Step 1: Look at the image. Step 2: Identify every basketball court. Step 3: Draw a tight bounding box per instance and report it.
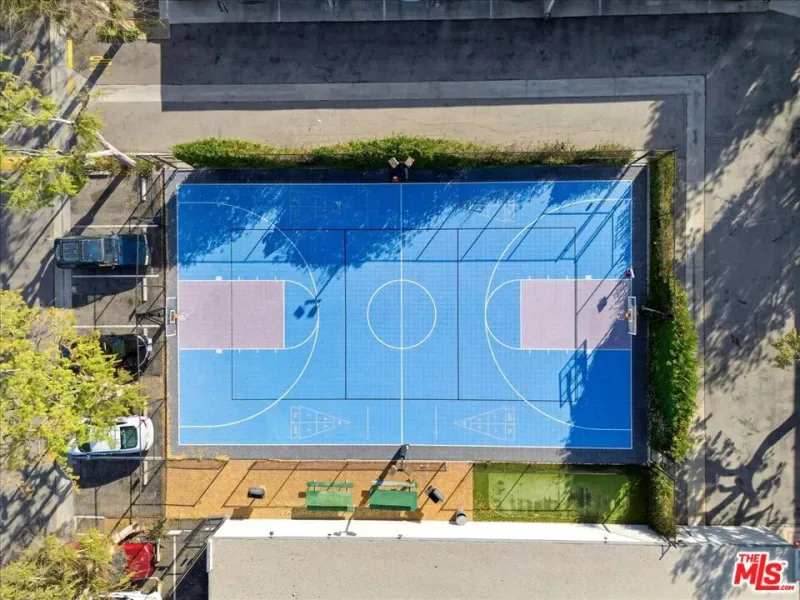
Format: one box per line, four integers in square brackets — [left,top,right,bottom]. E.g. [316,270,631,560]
[166,165,648,464]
